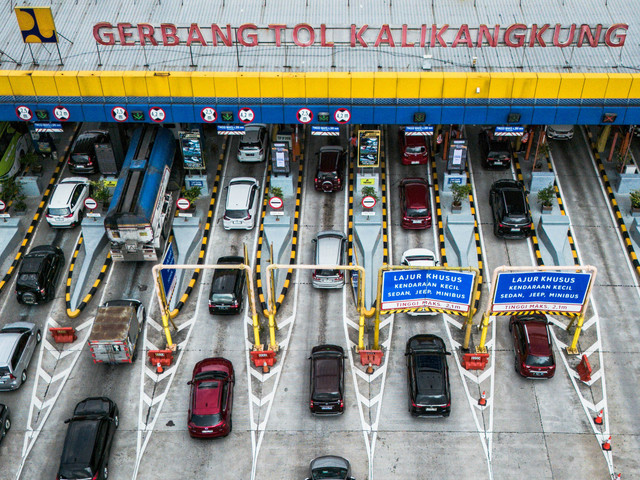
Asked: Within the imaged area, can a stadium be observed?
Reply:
No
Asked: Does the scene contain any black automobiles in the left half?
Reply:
Yes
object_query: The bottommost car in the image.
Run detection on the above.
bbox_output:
[305,455,355,480]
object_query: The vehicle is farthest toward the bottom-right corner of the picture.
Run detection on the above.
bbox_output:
[509,318,554,380]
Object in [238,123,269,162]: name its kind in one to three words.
car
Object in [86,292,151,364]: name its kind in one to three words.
truck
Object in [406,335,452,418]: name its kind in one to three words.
car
